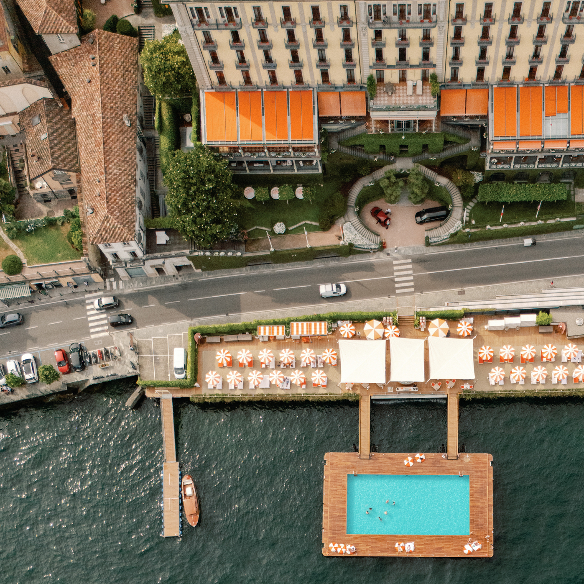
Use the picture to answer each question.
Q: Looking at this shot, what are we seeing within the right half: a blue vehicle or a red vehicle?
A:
red vehicle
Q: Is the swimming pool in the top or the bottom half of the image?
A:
bottom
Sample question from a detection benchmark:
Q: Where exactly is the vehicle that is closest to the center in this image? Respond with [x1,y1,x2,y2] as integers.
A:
[319,282,346,299]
